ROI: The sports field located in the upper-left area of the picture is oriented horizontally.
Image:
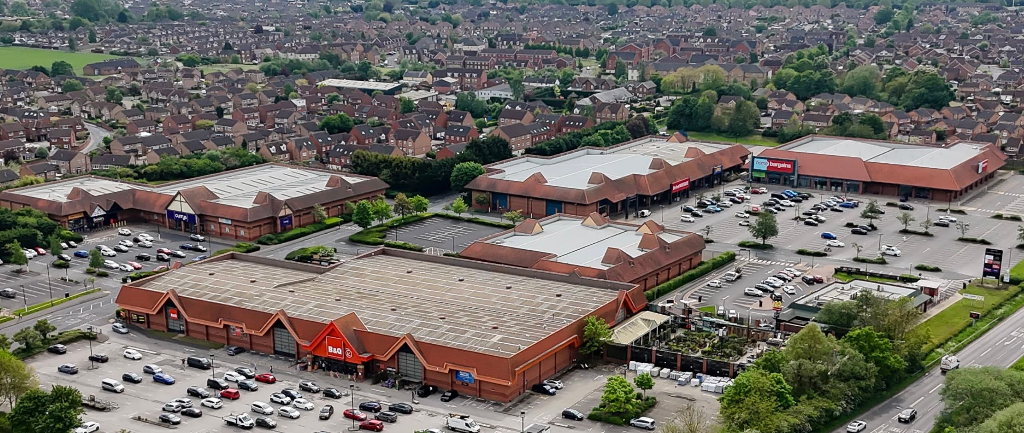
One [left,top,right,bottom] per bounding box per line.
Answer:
[0,47,138,70]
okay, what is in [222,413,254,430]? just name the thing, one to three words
vehicle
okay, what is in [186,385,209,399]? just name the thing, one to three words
car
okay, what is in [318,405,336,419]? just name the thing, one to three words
car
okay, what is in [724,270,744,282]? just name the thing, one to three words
vehicle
